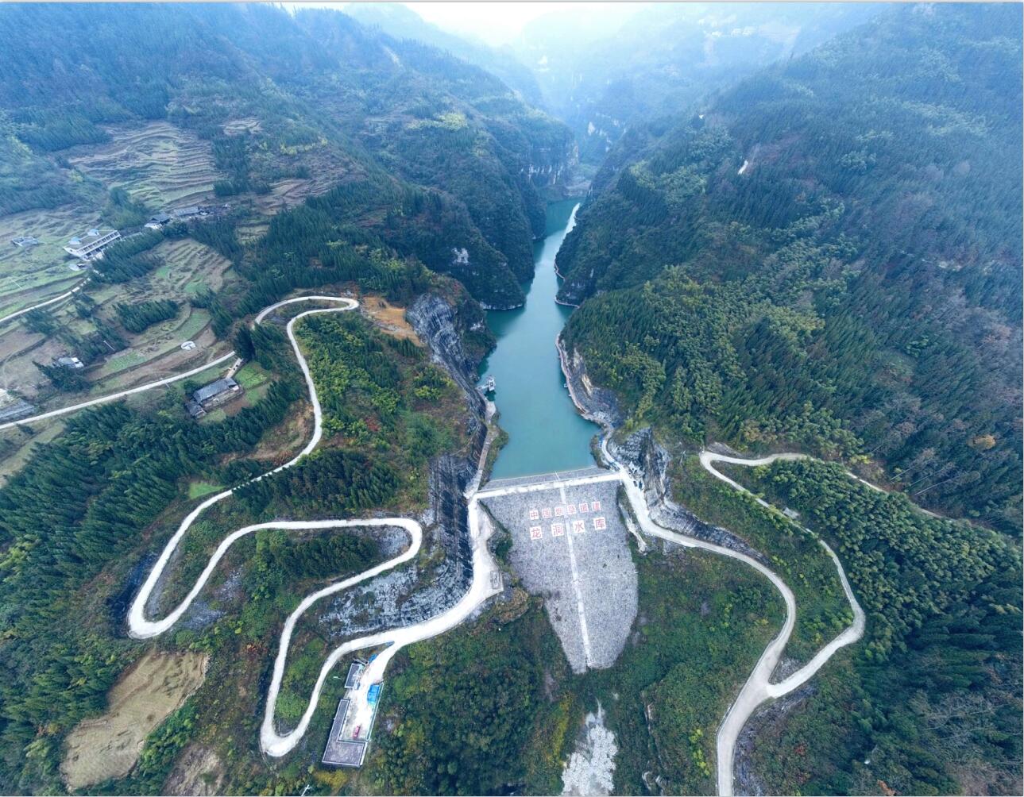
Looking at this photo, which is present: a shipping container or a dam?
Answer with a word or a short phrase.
dam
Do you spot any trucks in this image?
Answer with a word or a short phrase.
No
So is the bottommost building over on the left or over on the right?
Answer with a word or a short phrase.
left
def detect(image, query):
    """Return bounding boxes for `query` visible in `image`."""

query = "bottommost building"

[320,694,368,767]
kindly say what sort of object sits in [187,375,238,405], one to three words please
house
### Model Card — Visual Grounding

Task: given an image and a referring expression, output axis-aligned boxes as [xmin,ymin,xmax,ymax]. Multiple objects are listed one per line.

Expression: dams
[472,468,638,674]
